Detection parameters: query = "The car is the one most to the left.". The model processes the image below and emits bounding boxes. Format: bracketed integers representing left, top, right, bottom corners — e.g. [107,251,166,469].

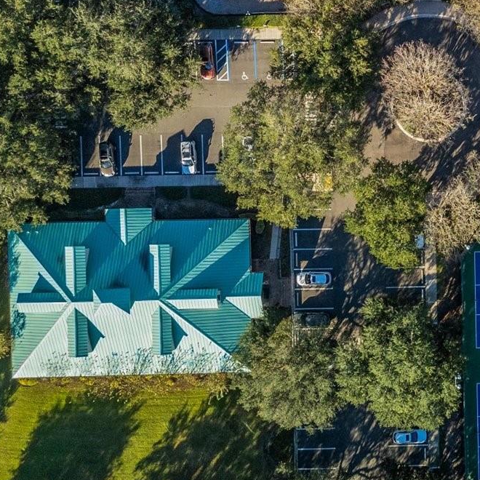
[97,140,117,176]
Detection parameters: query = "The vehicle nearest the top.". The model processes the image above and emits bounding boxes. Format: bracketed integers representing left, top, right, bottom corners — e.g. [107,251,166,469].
[198,42,217,80]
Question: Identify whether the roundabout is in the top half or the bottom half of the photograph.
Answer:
top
